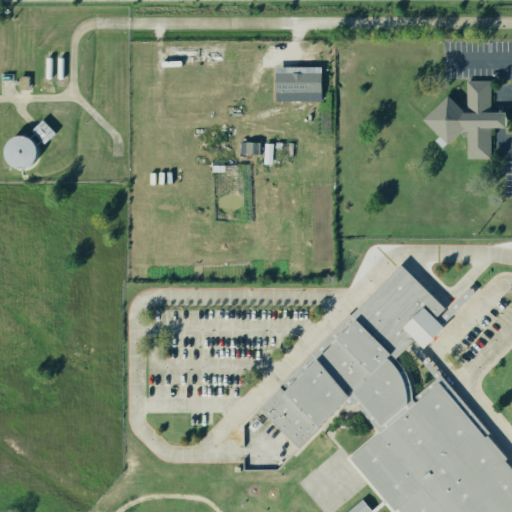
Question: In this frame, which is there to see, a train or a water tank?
water tank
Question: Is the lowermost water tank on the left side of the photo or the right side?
left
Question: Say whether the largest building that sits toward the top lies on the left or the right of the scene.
right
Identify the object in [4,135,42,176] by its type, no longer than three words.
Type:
water tank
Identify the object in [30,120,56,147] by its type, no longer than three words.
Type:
building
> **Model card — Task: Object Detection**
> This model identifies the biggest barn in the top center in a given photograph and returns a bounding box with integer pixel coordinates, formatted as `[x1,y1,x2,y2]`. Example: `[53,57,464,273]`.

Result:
[276,68,322,102]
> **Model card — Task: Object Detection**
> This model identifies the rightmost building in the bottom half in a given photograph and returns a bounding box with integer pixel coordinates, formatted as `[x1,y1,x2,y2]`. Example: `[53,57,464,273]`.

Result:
[258,265,512,512]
